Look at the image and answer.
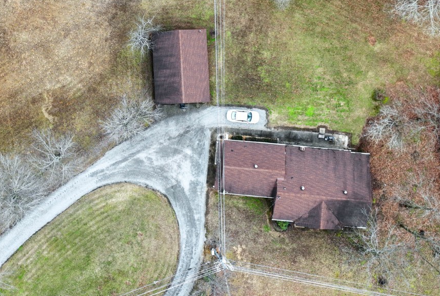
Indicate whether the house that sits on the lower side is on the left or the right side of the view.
right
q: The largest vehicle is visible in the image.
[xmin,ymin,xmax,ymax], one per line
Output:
[228,109,259,124]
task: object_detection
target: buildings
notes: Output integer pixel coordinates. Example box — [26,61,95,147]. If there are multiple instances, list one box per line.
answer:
[213,140,372,230]
[152,30,210,105]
